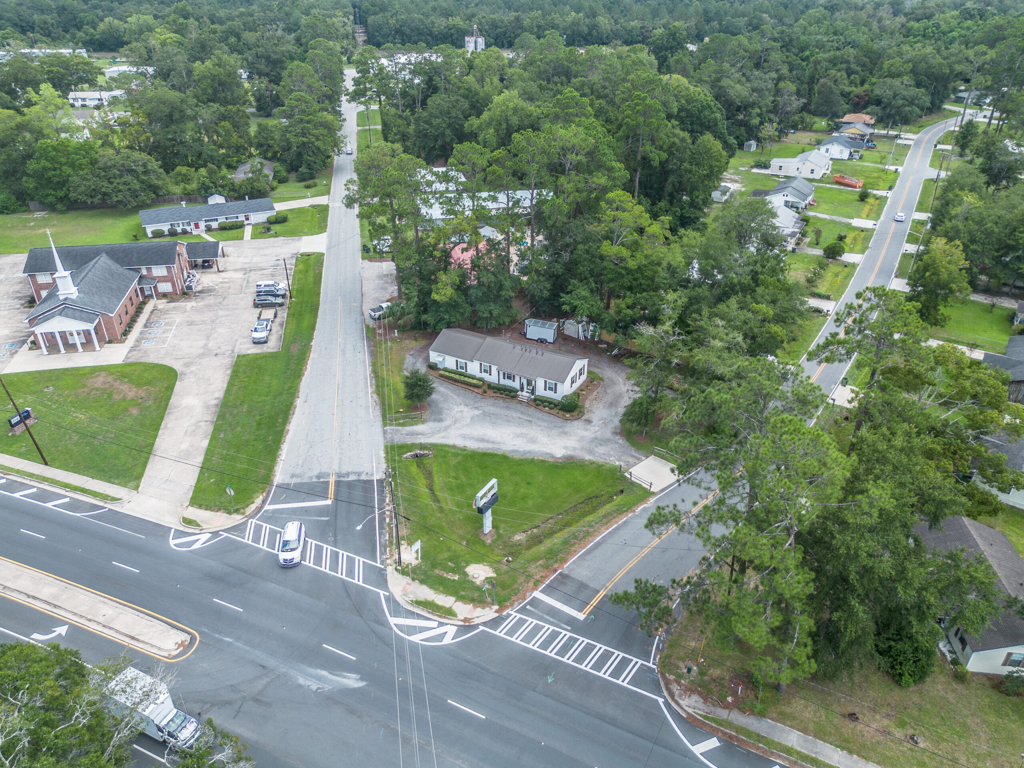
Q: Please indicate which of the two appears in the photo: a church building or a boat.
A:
church building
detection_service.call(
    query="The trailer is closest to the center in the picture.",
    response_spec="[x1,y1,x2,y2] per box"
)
[517,318,558,341]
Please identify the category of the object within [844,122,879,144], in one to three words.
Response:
house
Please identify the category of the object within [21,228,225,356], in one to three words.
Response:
church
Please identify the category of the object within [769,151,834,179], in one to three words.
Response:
house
